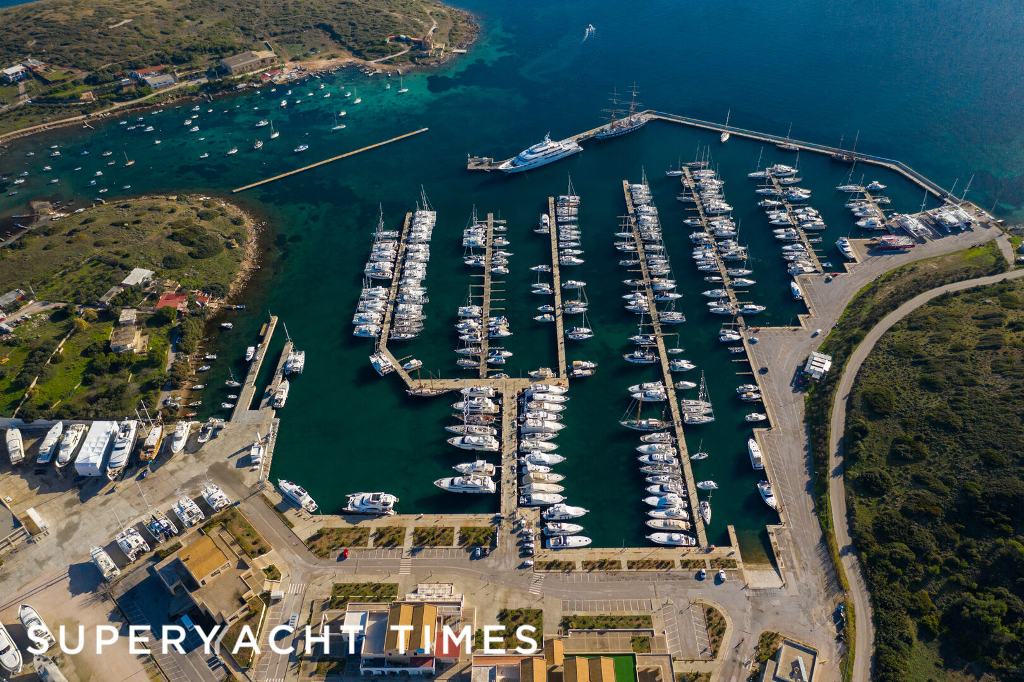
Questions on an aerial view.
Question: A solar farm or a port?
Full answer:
This image shows a port.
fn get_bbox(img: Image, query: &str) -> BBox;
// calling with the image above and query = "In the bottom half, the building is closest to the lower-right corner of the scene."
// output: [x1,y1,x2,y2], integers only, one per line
[762,639,819,682]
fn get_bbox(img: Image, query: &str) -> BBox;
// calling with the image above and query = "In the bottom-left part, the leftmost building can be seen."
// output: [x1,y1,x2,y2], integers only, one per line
[0,502,34,552]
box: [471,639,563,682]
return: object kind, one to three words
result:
building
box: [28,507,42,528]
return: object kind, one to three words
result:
vehicle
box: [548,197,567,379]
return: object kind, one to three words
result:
pier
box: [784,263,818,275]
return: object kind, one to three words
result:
boat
